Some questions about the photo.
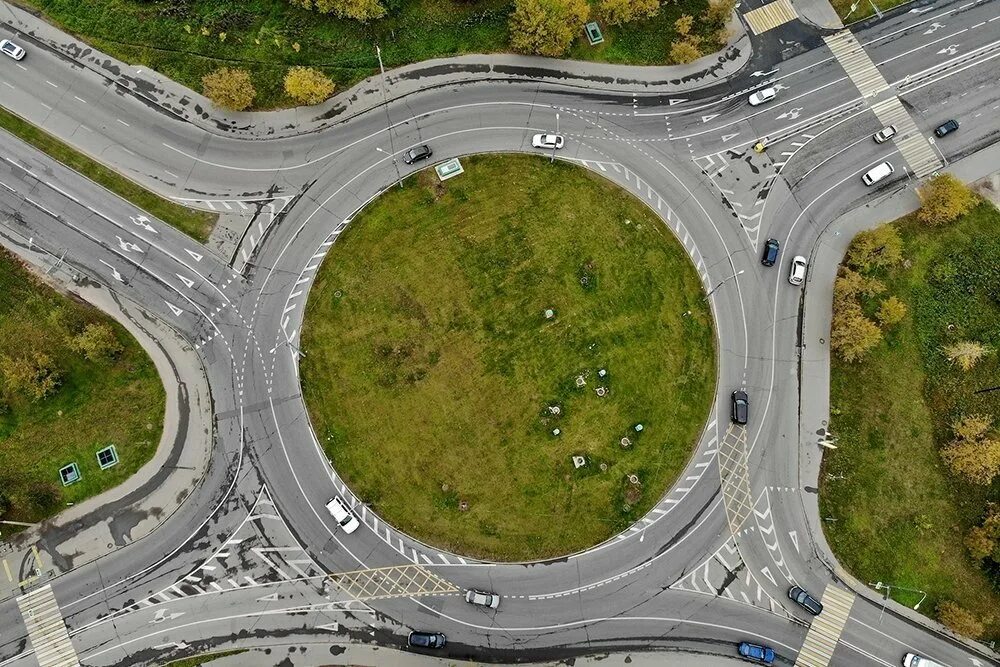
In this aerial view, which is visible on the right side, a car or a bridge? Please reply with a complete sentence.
You can see a car on the right side.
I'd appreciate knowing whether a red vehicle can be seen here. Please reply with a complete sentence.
No, there's no red vehicle here.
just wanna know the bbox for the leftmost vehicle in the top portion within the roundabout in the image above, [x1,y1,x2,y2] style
[403,146,433,166]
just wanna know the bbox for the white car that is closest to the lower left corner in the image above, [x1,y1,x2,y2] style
[326,496,356,534]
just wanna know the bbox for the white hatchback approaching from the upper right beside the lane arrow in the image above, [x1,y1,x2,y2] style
[747,85,778,106]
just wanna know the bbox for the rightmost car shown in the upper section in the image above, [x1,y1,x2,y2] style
[931,117,961,139]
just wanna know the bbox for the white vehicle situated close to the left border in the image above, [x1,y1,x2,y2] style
[0,36,29,62]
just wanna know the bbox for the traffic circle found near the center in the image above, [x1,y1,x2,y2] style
[162,82,799,657]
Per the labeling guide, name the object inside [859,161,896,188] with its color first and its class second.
white vehicle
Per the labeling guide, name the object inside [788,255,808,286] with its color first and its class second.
white car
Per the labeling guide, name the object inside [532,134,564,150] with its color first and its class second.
white car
